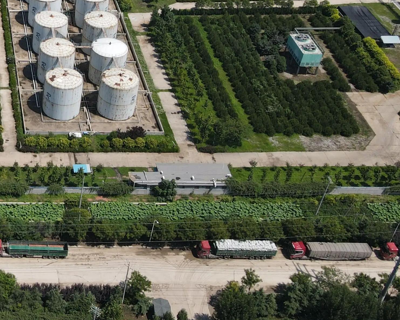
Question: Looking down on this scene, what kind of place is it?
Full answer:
This image shows an industrial area.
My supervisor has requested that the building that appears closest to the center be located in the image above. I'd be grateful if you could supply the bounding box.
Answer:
[125,163,237,190]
